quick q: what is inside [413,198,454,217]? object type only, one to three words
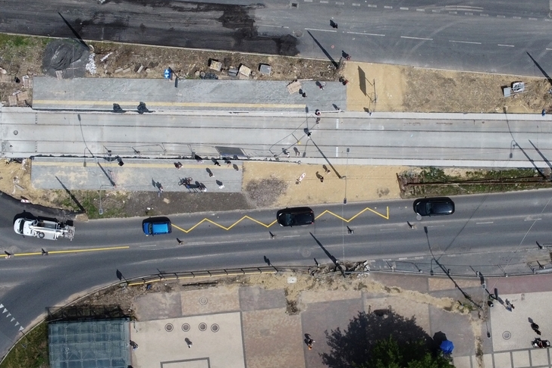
car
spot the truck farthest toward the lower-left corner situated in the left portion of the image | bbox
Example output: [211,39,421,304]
[15,215,82,240]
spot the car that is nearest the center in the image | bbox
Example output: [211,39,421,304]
[277,207,315,226]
